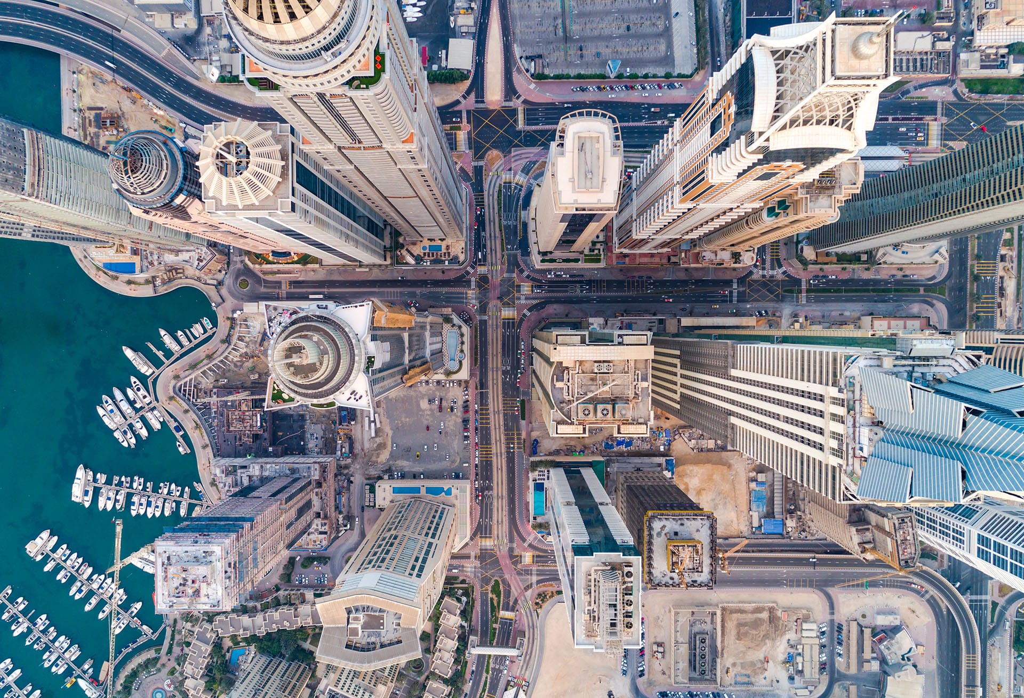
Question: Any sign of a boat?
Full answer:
Yes, there's a boat here.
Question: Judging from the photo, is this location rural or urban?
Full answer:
This place is urban.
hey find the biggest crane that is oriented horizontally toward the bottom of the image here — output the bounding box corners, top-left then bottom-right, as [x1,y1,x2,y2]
[834,543,926,588]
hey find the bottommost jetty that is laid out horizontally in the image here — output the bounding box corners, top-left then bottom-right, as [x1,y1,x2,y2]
[88,476,207,519]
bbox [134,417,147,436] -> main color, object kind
white boat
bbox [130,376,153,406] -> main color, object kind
white boat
